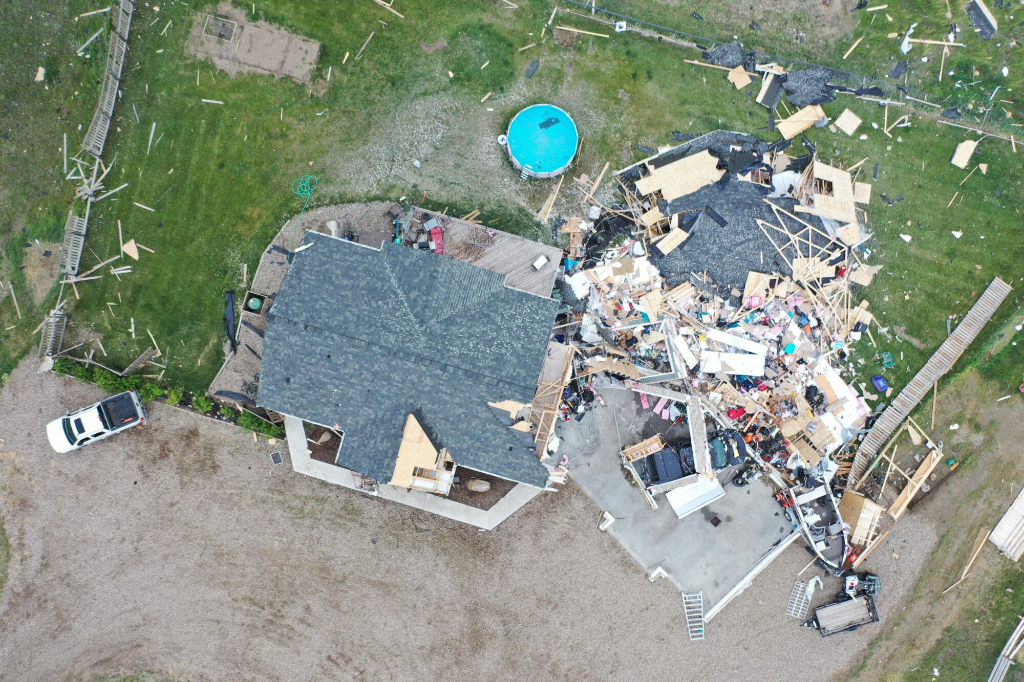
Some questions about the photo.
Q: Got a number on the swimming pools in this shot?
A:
one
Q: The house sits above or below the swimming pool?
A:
below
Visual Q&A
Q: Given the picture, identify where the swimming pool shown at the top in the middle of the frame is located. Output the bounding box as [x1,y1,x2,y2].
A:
[507,104,579,182]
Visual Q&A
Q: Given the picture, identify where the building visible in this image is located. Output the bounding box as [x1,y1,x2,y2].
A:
[256,228,576,497]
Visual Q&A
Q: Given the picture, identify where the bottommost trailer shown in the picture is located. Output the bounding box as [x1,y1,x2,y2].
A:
[801,597,893,643]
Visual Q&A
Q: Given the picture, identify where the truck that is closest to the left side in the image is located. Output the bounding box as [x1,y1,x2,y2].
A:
[45,388,156,454]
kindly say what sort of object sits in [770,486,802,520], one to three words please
work vehicle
